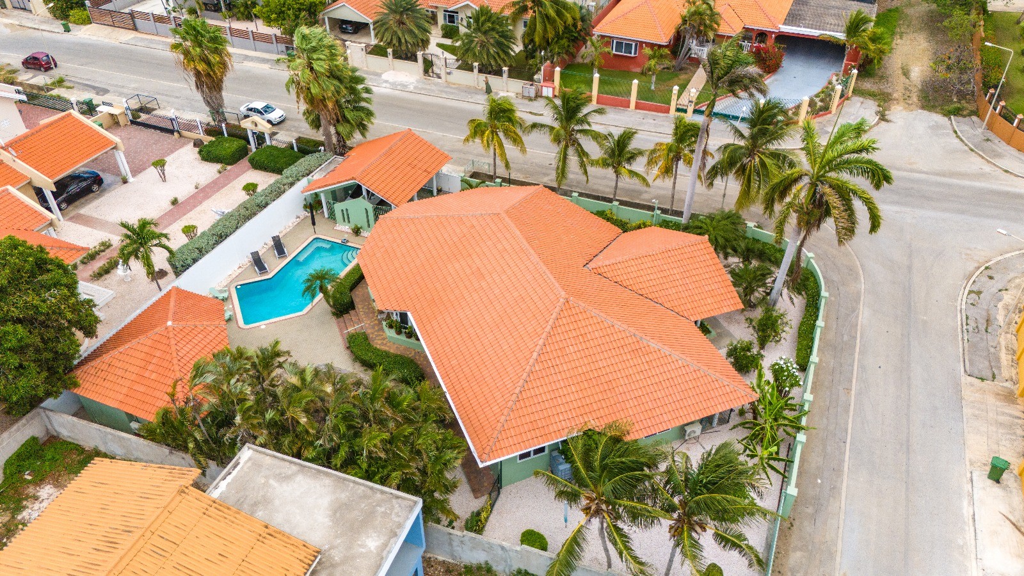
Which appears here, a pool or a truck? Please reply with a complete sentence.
Of the two, only a pool appears.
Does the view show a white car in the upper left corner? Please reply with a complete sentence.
Yes, in the upper left corner there is a white car.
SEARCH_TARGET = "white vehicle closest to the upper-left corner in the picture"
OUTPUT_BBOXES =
[236,101,287,125]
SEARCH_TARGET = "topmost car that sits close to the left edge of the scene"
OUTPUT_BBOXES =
[18,50,55,71]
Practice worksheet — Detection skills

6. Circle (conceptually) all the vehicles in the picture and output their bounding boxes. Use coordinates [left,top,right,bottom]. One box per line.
[32,172,101,211]
[236,101,287,125]
[335,18,371,37]
[18,50,55,71]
